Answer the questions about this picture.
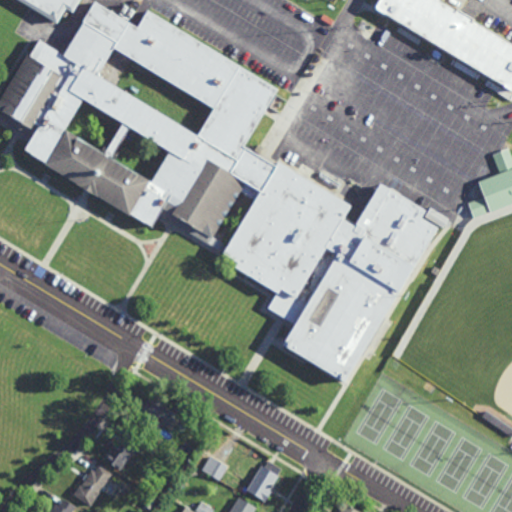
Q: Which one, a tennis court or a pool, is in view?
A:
tennis court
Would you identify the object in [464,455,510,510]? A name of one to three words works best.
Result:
tennis court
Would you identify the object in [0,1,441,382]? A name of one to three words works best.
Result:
building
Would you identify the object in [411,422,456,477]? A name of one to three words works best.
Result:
tennis court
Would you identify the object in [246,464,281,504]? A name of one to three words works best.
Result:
house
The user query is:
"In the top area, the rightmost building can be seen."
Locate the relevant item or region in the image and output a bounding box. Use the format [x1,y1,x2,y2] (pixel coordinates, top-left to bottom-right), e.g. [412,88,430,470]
[468,148,512,218]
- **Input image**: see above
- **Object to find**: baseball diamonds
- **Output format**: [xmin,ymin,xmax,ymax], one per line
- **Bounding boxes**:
[392,204,512,436]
